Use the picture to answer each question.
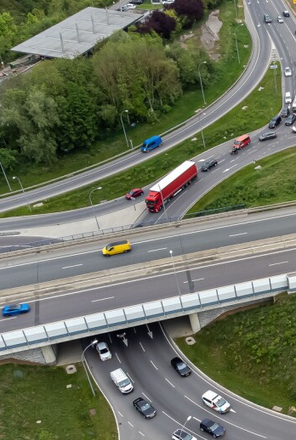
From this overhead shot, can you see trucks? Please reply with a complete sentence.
Yes, a truck appears in the view.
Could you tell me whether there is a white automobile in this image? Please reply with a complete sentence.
Yes, the image includes a white automobile.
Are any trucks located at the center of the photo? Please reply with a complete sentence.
Yes, there is a truck at the center of the photo.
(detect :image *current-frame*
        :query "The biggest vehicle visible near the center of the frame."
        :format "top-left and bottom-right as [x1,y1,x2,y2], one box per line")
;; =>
[146,161,196,208]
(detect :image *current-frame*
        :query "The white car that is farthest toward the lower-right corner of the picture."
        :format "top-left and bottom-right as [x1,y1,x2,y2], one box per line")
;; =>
[202,391,230,413]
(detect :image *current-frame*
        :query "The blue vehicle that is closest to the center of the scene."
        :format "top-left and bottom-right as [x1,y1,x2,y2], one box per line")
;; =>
[141,136,163,151]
